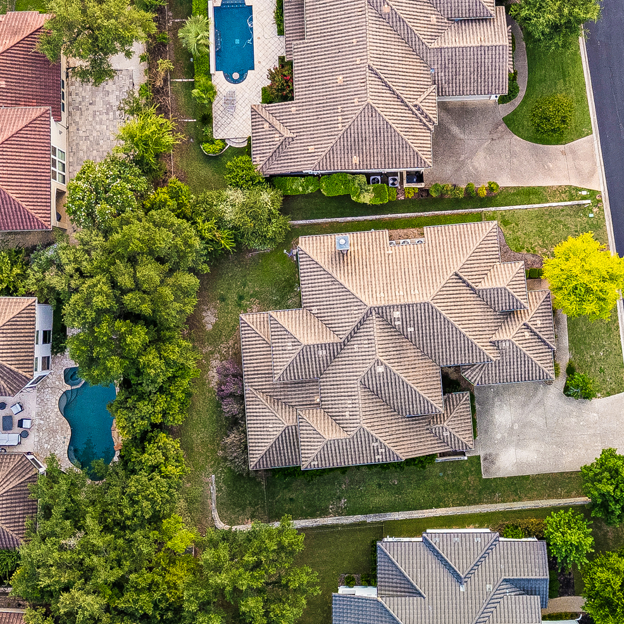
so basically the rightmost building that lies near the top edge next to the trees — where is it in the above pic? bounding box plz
[250,0,515,177]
